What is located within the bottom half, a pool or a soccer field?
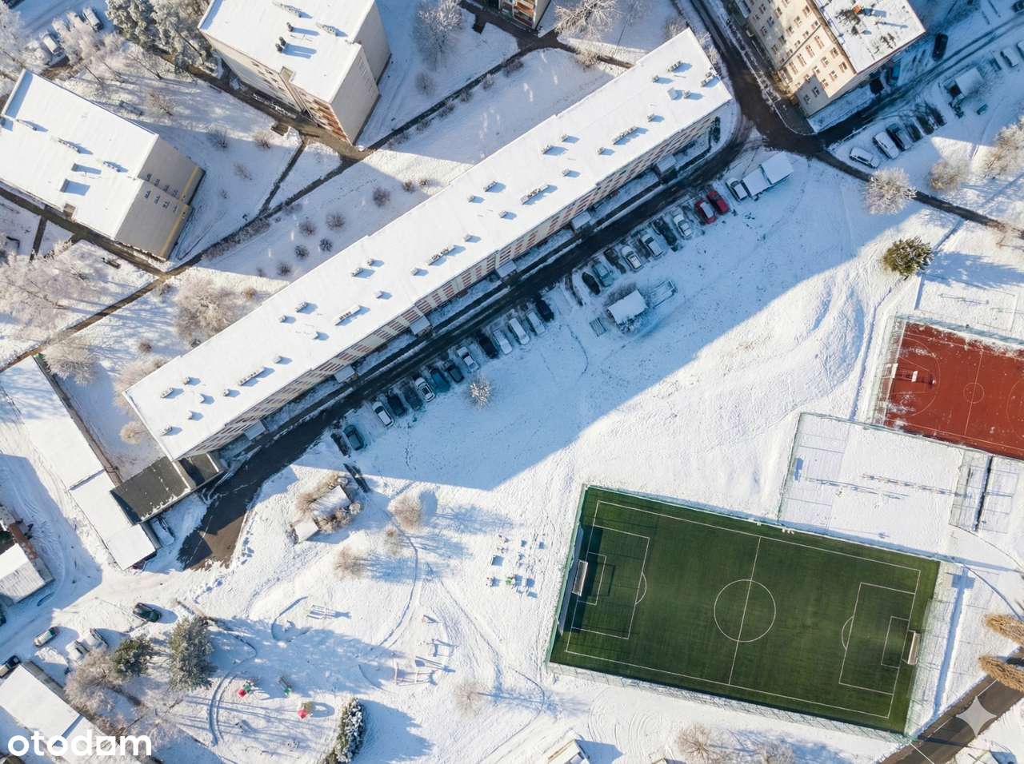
soccer field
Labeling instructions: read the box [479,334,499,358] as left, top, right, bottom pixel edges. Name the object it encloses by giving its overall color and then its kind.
black car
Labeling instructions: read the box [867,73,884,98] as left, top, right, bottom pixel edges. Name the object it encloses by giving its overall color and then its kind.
black car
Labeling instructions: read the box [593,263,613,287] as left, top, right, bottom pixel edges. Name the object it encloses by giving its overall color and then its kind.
blue car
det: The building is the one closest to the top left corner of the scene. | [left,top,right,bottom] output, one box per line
[0,61,205,257]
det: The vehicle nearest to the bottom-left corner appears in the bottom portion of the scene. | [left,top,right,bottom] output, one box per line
[0,654,22,677]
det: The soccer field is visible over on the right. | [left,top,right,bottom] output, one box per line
[549,485,940,736]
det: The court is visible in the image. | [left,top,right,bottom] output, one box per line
[872,320,1024,458]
